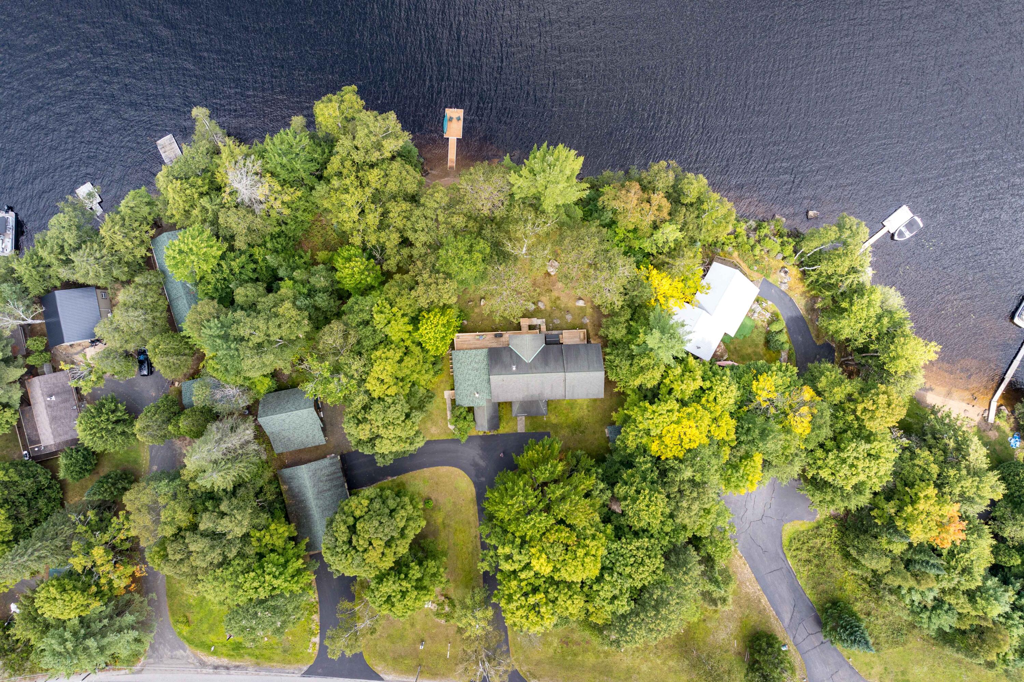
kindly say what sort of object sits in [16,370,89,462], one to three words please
house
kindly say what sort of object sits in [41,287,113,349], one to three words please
building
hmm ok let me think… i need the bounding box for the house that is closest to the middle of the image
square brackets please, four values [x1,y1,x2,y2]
[449,318,604,431]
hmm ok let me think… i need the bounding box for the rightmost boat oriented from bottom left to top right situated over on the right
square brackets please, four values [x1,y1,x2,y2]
[893,216,925,241]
